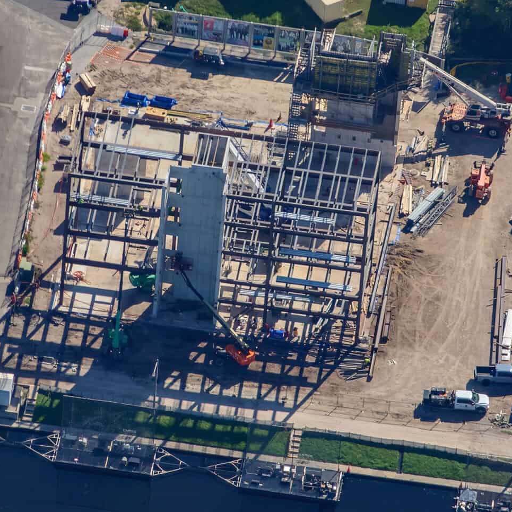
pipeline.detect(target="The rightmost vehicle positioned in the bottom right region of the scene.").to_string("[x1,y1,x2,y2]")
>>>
[475,361,512,383]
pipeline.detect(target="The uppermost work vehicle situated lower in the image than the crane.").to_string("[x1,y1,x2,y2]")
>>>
[468,162,493,200]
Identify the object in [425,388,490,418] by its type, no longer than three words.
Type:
truck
